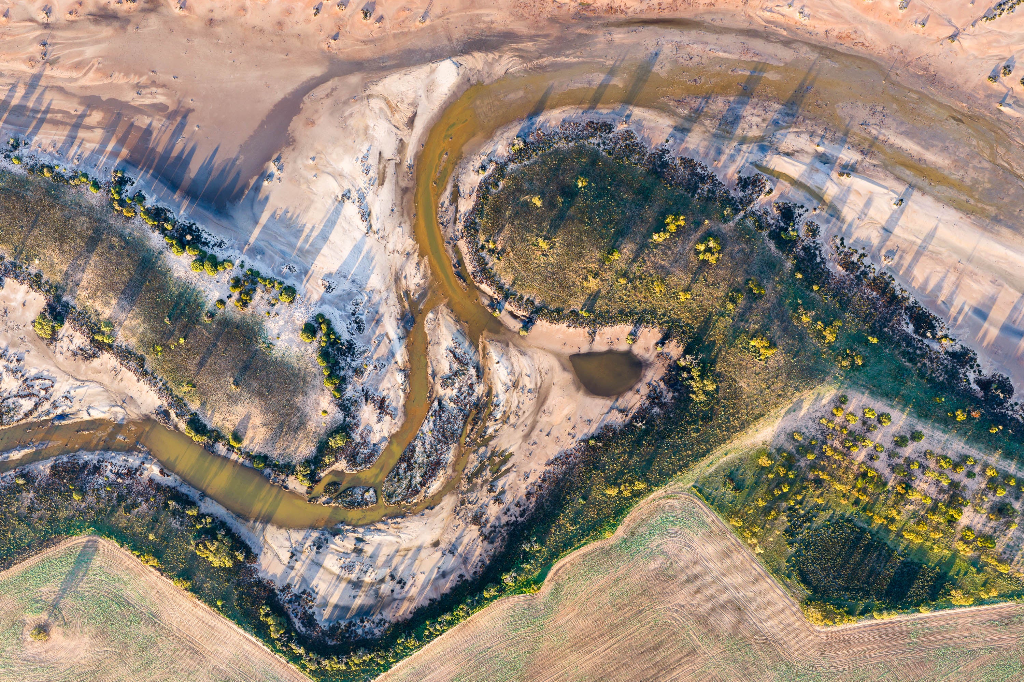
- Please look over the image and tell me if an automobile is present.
No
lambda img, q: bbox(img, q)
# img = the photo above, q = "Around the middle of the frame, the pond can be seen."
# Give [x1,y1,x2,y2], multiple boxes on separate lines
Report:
[570,354,637,394]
